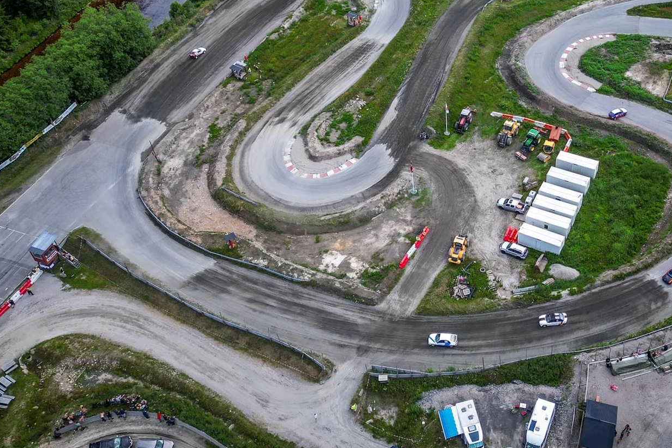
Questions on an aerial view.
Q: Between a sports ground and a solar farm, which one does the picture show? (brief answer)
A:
sports ground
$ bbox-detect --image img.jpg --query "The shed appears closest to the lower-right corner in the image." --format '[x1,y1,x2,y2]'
[569,399,617,448]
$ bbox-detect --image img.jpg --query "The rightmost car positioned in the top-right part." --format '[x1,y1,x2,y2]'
[606,108,628,121]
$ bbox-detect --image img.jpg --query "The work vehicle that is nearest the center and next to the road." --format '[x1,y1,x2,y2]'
[448,230,472,262]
